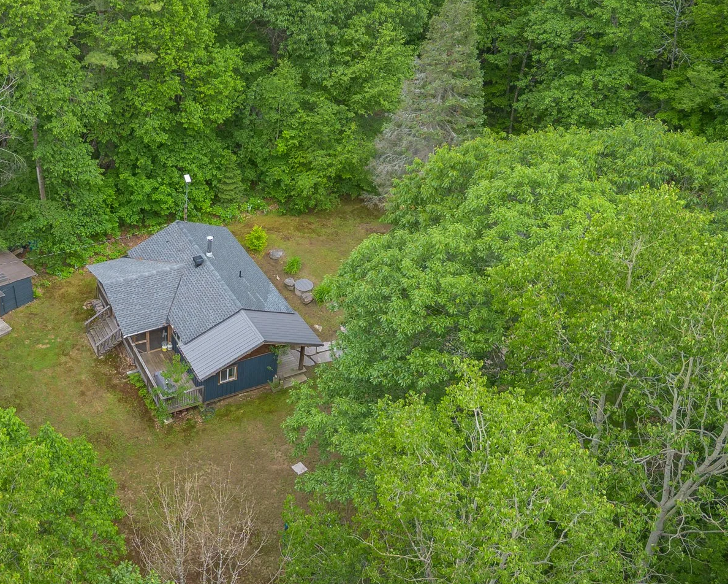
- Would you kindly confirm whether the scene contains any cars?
No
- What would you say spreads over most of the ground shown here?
trees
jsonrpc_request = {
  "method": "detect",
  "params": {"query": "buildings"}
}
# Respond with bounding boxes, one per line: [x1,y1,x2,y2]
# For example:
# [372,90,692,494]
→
[83,221,324,421]
[0,239,38,339]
